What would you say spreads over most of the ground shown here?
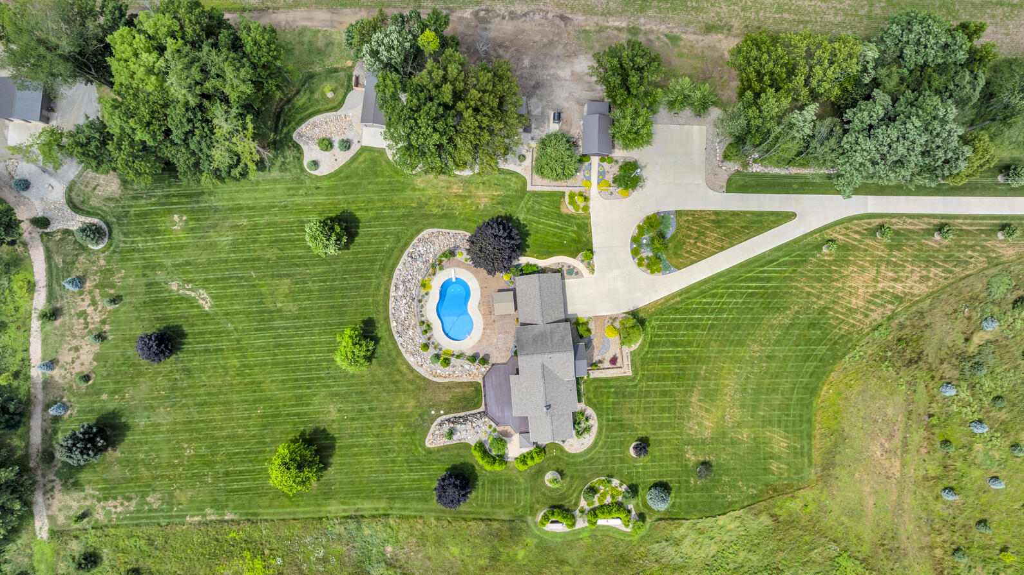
grass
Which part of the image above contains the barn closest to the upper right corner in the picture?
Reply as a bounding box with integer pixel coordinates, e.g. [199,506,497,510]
[583,102,612,158]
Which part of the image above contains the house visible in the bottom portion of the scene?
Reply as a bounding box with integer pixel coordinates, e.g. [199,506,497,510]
[509,273,587,450]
